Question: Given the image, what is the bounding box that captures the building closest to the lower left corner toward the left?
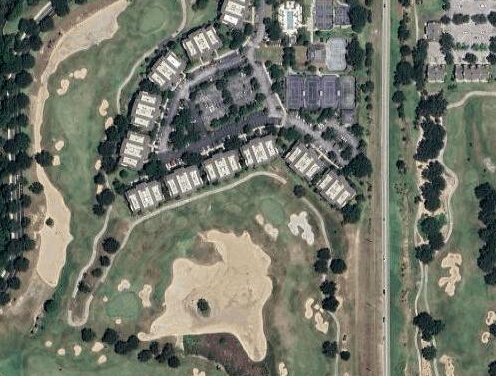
[125,178,166,212]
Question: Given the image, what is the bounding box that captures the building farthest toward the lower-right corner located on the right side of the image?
[316,169,355,208]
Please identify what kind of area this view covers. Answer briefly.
golf course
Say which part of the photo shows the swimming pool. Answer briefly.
top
